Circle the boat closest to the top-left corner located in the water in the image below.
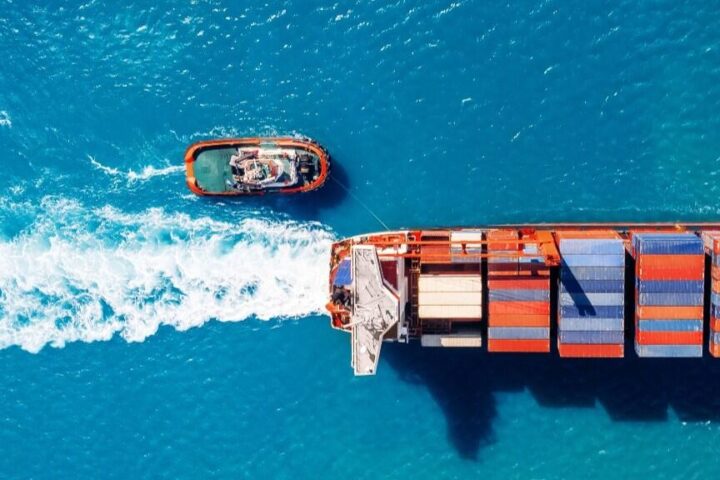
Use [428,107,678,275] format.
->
[186,136,333,197]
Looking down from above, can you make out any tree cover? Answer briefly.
No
